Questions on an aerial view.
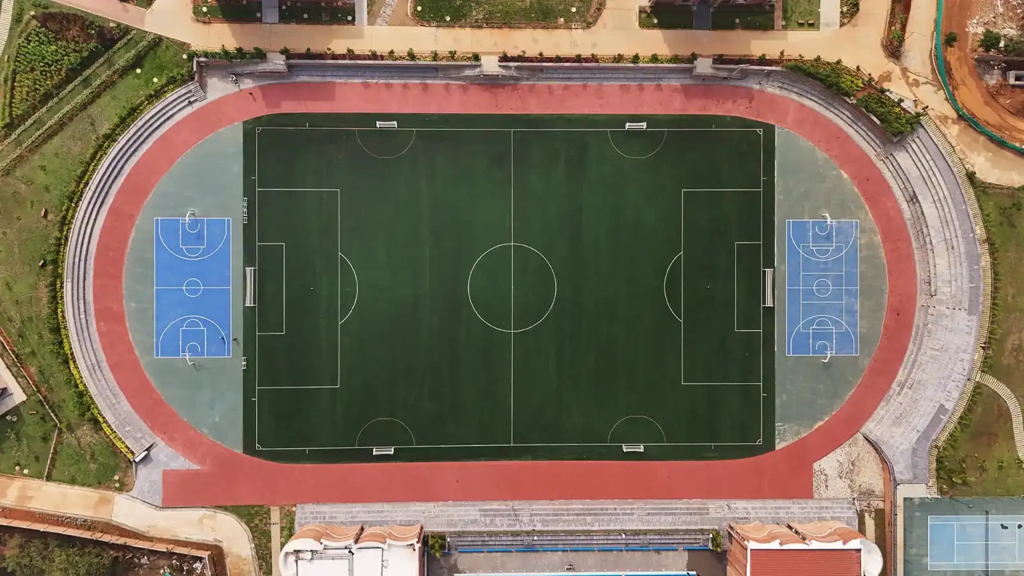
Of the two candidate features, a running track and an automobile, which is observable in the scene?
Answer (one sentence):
This aerial view contains a running track.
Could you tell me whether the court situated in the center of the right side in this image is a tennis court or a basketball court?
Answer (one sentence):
The court situated in the center of the right side is a basketball court.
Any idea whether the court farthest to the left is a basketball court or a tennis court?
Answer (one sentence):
The court farthest to the left can be classified as a basketball court.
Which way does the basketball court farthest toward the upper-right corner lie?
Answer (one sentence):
The basketball court farthest toward the upper-right corner is oriented vertically.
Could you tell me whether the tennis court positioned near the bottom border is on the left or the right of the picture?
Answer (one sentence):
The tennis court positioned near the bottom border is on the right side of the image.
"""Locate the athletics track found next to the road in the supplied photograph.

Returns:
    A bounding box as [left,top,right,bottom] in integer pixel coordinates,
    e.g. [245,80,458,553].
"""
[93,83,919,506]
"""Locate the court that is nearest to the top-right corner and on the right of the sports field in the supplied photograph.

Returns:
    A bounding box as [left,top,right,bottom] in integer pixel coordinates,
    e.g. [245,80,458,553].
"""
[775,125,888,450]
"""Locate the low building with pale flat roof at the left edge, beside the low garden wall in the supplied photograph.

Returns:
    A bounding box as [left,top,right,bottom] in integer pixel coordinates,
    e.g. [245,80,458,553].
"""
[0,343,37,416]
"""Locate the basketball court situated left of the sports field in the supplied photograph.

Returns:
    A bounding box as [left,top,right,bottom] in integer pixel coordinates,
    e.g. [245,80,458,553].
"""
[124,123,243,452]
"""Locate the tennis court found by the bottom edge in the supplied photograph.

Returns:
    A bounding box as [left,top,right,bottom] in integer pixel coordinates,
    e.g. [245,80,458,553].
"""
[903,497,1024,576]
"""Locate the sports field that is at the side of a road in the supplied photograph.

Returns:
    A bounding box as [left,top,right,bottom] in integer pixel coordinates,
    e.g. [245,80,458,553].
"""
[243,114,775,461]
